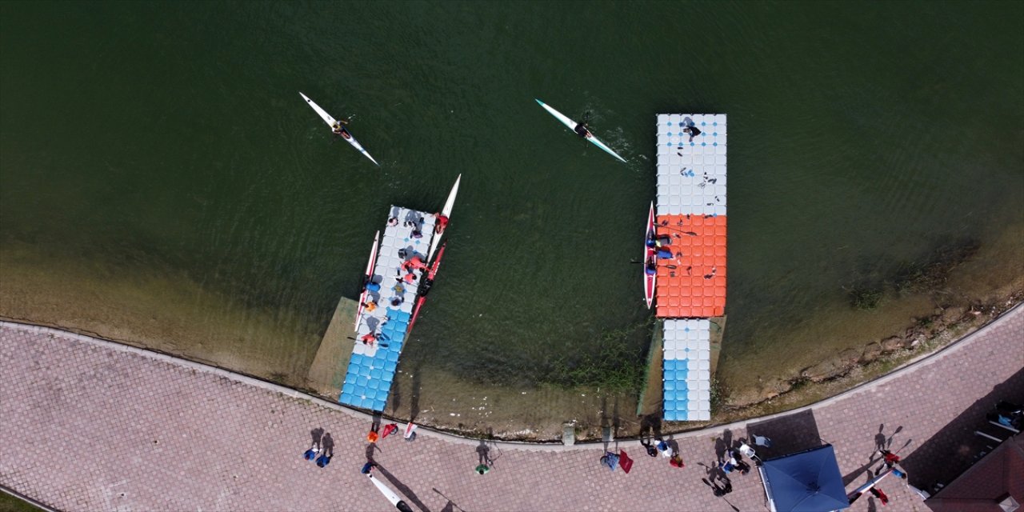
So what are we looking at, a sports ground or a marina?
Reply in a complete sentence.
It's a marina.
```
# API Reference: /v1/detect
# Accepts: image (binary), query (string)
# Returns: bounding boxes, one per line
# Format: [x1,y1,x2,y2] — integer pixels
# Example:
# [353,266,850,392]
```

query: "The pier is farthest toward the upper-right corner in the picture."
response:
[656,113,727,318]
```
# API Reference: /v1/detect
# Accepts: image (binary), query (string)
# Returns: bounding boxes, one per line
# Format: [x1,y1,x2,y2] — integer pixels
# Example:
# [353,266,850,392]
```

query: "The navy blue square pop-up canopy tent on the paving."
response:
[754,436,850,512]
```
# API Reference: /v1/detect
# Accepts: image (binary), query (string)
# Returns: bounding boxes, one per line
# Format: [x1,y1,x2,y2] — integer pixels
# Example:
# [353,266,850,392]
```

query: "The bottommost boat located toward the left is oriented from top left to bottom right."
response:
[369,476,414,512]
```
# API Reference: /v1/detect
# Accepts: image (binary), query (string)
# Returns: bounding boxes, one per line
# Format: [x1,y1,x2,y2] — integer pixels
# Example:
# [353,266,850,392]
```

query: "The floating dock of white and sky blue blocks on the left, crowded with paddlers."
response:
[339,205,437,413]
